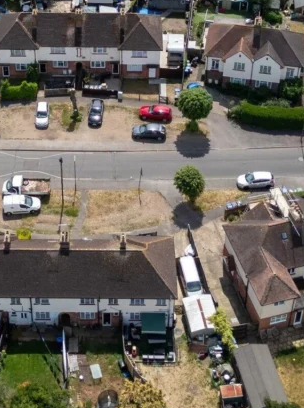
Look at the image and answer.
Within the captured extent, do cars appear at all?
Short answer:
Yes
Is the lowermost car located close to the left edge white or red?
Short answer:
white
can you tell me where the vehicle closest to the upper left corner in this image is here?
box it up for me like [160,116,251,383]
[33,103,50,128]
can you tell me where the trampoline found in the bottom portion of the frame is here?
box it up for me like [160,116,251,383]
[92,376,121,408]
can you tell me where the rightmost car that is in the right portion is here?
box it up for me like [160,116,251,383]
[237,172,274,192]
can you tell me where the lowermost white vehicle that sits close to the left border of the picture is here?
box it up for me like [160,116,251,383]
[2,195,43,218]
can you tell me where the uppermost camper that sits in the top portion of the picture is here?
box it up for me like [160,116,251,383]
[165,35,184,64]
